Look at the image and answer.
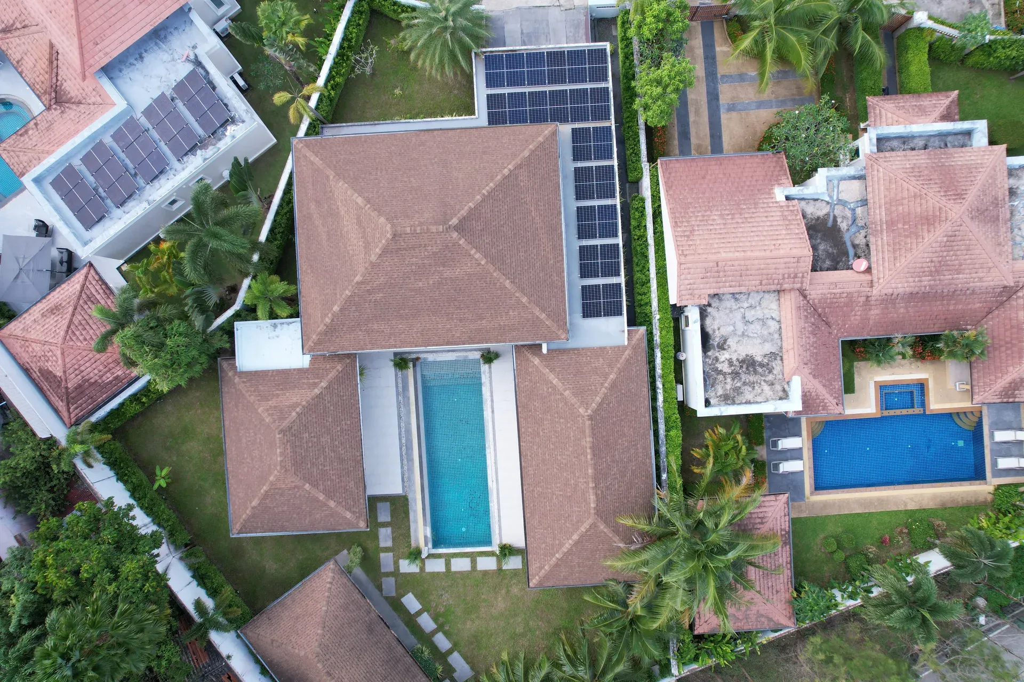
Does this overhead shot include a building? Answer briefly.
Yes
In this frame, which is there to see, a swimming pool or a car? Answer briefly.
swimming pool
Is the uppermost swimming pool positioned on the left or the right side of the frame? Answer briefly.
left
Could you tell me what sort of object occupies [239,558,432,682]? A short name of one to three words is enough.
house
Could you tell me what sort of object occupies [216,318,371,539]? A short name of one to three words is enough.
house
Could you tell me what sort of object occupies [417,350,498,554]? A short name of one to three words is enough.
swimming pool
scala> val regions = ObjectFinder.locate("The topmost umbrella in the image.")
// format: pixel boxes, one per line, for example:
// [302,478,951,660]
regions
[0,234,78,305]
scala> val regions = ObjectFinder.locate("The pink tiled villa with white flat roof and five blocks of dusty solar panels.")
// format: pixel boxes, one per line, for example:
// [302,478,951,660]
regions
[0,0,279,265]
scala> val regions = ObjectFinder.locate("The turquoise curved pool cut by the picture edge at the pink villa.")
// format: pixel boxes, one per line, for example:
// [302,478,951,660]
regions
[0,92,33,214]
